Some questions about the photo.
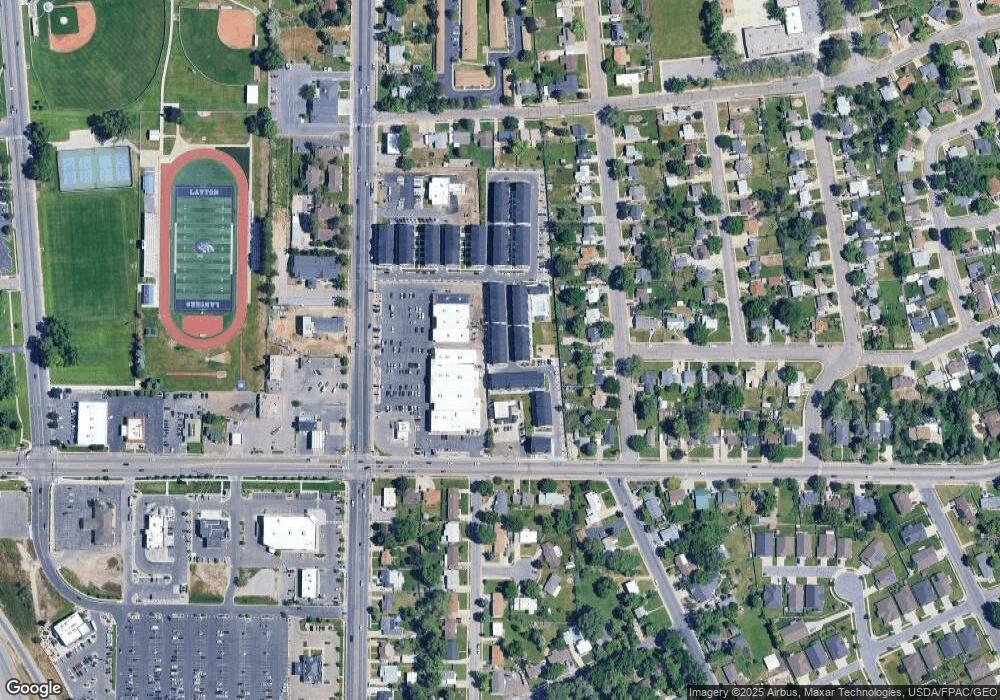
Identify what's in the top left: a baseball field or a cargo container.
baseball field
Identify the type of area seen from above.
residential area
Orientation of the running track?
vertically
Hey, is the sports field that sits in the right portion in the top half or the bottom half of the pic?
top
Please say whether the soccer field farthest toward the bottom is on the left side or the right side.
left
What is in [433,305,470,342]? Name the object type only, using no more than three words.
building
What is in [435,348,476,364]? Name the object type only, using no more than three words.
building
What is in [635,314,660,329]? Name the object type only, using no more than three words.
house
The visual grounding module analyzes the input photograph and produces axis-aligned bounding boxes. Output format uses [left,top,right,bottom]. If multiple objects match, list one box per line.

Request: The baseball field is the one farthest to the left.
[31,0,165,109]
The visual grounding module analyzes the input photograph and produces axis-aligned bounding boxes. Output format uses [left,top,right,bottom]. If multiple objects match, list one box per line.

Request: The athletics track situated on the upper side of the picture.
[160,148,249,350]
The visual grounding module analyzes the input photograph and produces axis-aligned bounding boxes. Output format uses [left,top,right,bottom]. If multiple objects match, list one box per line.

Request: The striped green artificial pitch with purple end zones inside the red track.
[171,158,238,341]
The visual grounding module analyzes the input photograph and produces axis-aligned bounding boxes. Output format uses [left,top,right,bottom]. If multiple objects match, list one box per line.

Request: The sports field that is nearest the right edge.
[651,0,707,61]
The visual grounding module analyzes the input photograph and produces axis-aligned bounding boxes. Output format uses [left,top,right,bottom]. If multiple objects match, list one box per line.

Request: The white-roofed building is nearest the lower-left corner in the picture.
[53,614,87,645]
